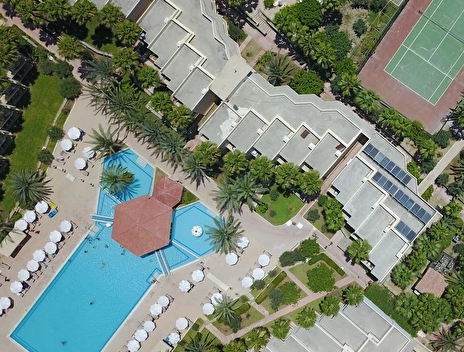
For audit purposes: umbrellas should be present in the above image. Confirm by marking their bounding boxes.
[225,253,238,265]
[10,281,25,294]
[134,329,147,341]
[241,276,255,289]
[128,339,140,352]
[60,219,73,231]
[36,200,50,213]
[33,249,48,263]
[73,157,87,169]
[179,279,191,292]
[18,269,32,282]
[257,254,270,267]
[202,303,214,315]
[192,270,204,283]
[68,128,81,140]
[0,296,13,309]
[45,241,58,254]
[83,145,95,158]
[23,210,38,223]
[176,317,189,329]
[237,236,250,249]
[49,229,63,243]
[144,320,156,333]
[169,332,182,344]
[150,304,163,315]
[253,268,265,279]
[27,259,41,272]
[157,295,170,308]
[61,138,74,151]
[15,217,29,230]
